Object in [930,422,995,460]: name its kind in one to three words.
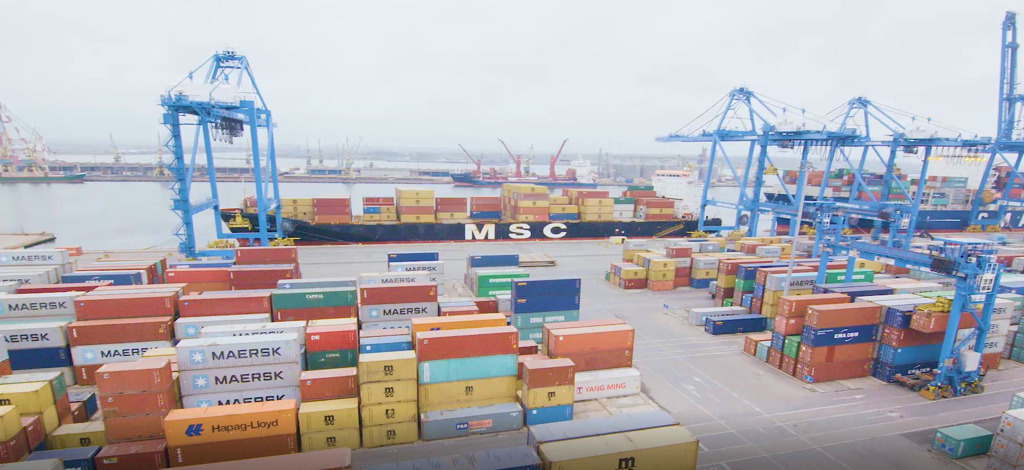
shipping container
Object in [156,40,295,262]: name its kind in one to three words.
container crane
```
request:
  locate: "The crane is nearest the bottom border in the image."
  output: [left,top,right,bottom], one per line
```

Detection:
[804,230,1019,401]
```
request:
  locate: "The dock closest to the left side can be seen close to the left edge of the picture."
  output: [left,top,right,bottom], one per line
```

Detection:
[0,232,55,252]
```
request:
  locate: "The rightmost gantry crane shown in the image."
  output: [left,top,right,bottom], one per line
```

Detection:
[967,14,1024,227]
